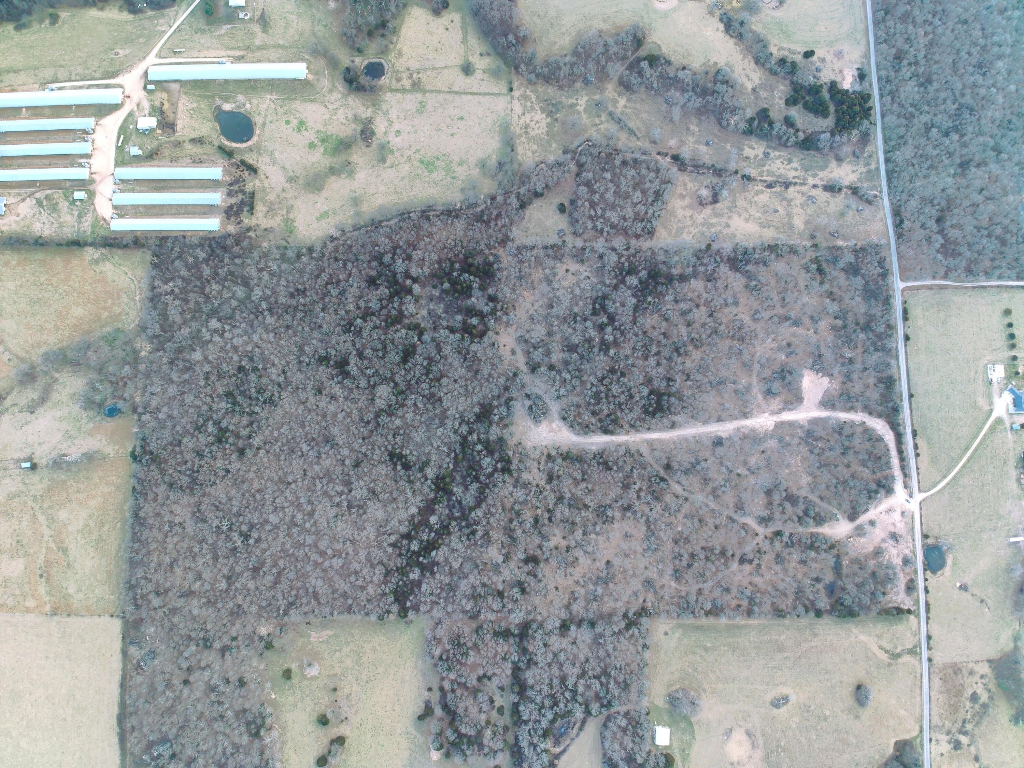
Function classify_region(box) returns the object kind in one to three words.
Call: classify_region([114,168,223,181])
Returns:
house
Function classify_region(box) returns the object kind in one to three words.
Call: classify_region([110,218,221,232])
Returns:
house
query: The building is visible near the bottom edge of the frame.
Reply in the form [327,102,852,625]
[653,722,670,745]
